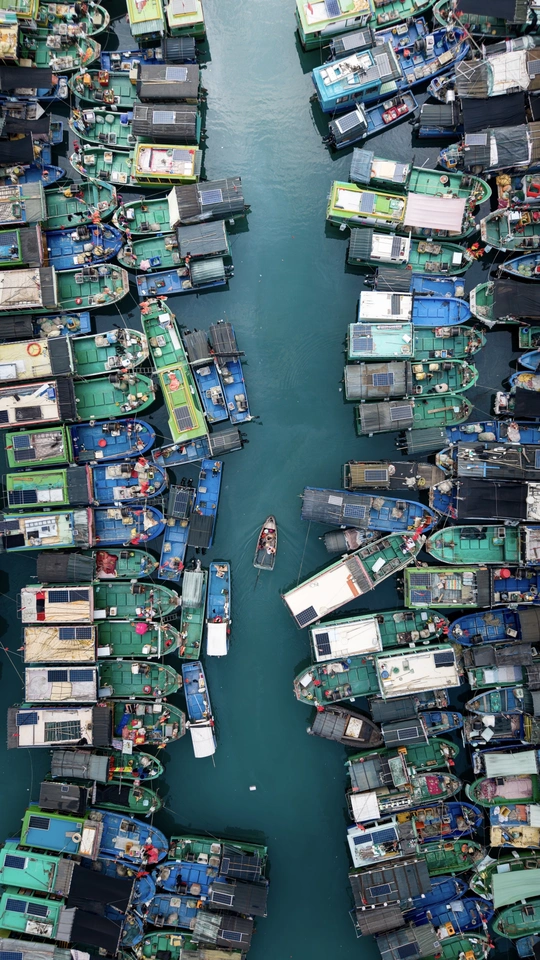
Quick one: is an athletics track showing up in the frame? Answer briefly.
No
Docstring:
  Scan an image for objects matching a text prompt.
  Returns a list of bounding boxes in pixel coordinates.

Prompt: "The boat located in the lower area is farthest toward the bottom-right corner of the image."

[515,936,540,956]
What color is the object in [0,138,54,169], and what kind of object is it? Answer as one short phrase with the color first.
black boat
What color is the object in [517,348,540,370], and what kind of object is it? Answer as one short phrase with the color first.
blue boat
